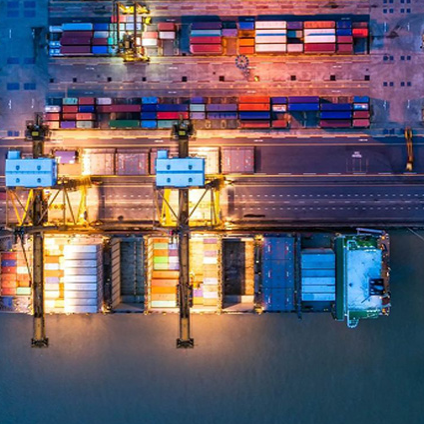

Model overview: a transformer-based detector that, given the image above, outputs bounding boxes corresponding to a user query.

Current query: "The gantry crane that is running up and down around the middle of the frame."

[146,112,239,347]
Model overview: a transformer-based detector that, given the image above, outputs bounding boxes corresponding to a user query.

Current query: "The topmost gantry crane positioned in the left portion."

[112,2,155,64]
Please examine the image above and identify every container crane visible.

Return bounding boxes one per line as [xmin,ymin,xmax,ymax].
[4,114,102,348]
[146,112,239,347]
[112,2,155,64]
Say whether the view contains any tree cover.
No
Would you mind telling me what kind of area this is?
port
